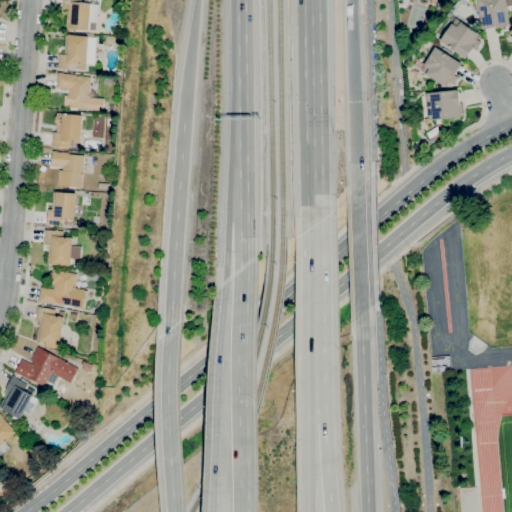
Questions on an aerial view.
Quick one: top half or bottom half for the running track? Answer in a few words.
bottom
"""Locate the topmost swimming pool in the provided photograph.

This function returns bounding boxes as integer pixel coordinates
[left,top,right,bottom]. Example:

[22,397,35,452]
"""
[104,10,120,32]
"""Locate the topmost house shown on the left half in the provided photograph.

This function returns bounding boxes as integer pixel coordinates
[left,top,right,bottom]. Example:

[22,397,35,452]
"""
[62,0,97,30]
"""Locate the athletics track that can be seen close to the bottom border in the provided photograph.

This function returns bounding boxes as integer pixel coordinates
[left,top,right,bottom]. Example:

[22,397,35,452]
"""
[470,368,512,512]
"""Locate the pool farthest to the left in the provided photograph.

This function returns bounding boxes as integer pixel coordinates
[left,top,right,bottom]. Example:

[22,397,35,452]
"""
[44,434,72,448]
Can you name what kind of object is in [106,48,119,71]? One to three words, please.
swimming pool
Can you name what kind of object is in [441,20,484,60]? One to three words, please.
house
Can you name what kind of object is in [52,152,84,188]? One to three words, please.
house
